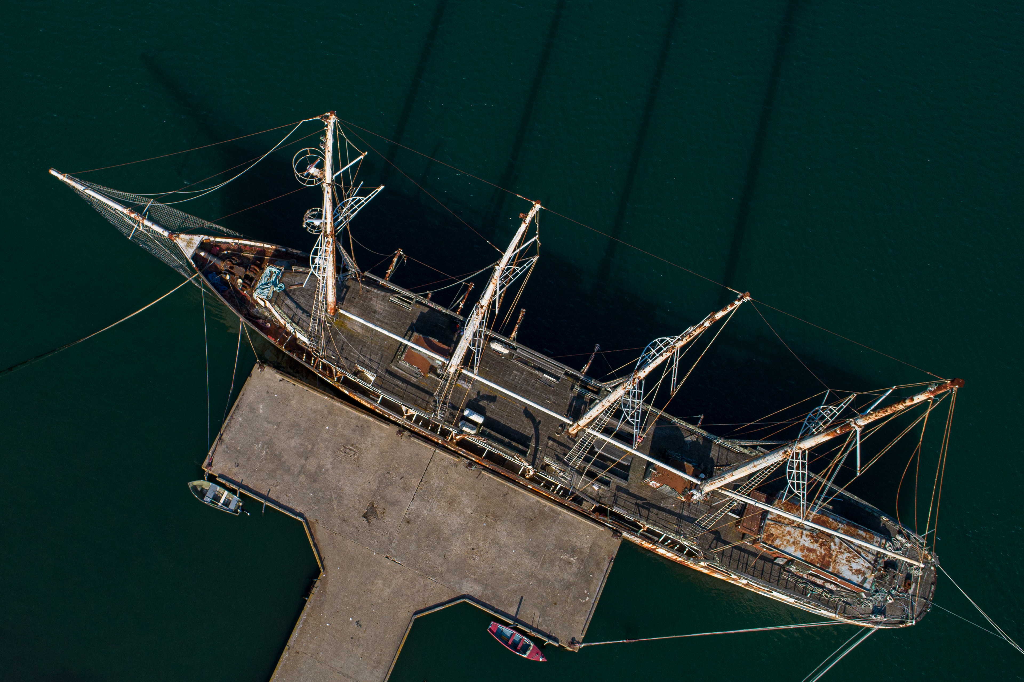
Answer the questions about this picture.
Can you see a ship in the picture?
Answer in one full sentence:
Yes, I can see a ship in this picture.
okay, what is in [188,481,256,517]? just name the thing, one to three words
boat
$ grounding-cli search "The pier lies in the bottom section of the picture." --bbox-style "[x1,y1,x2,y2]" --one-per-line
[202,366,621,682]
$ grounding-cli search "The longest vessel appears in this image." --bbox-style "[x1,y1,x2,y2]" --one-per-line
[52,108,966,633]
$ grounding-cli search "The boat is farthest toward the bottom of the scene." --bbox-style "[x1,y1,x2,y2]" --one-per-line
[487,622,547,662]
